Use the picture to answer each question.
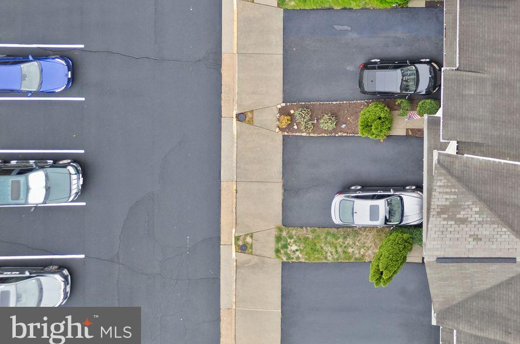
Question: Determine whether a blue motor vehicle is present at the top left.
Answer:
Yes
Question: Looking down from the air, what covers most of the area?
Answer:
paved ground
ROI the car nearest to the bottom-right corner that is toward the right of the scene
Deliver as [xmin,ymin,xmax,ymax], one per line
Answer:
[328,184,424,231]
